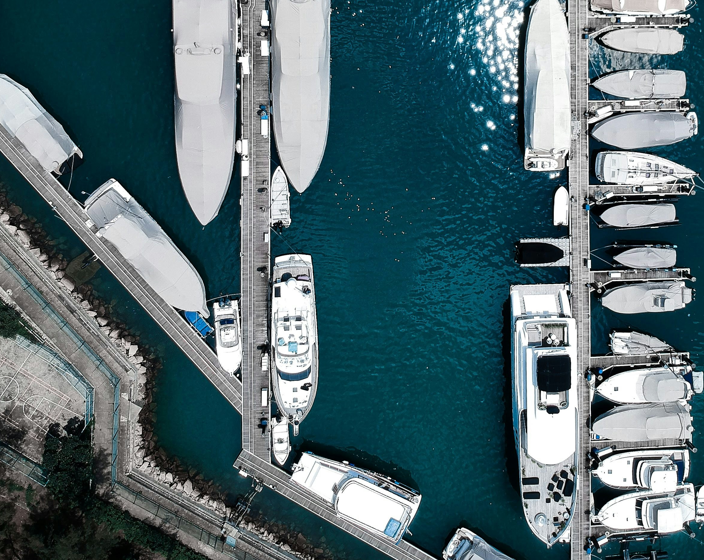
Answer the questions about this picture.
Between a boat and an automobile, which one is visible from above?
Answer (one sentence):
This aerial view contains a boat.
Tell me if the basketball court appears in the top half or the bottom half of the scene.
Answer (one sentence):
It is in the bottom half that the basketball court appears.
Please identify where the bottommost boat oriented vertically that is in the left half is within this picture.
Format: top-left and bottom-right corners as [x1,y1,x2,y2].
[273,413,289,465]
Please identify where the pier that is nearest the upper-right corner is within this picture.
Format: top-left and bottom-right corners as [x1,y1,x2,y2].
[589,15,689,36]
